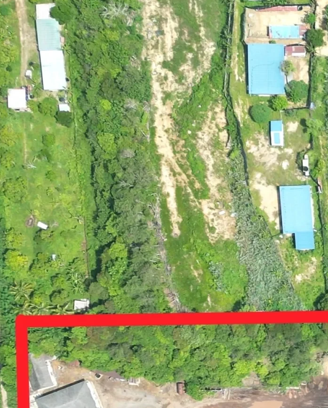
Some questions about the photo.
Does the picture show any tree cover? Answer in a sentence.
Yes, there is tree cover in the image.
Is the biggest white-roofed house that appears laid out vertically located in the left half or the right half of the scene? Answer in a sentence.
You can find the biggest white-roofed house that appears laid out vertically on the left side of the picture.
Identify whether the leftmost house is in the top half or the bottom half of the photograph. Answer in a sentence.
The leftmost house is in the top half of the image.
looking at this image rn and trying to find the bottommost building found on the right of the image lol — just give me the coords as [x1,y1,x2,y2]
[280,185,317,252]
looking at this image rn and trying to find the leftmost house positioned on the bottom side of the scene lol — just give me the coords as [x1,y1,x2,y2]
[27,355,61,392]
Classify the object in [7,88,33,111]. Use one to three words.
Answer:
house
